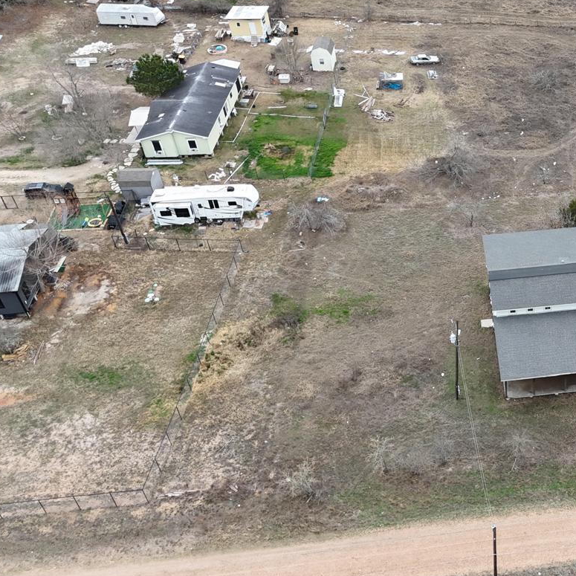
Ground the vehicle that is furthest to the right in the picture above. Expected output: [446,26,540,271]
[408,52,441,67]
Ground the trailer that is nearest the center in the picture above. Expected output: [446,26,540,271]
[150,183,265,230]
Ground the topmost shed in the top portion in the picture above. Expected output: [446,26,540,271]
[222,3,275,41]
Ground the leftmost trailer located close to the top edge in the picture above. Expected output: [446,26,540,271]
[98,5,174,30]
